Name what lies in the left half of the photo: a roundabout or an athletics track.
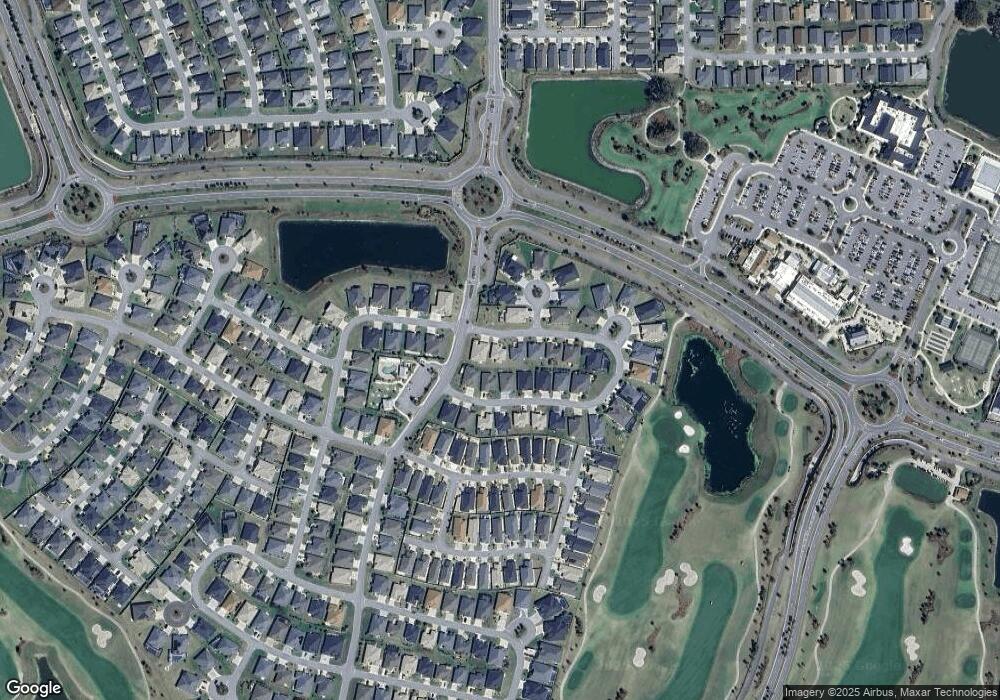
roundabout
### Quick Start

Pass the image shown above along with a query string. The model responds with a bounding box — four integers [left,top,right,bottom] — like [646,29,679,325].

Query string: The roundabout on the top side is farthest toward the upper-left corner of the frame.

[51,171,113,231]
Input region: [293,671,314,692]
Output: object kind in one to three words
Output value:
house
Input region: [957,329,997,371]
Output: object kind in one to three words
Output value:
tennis court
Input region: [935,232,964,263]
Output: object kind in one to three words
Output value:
roundabout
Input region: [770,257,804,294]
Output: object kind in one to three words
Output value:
building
